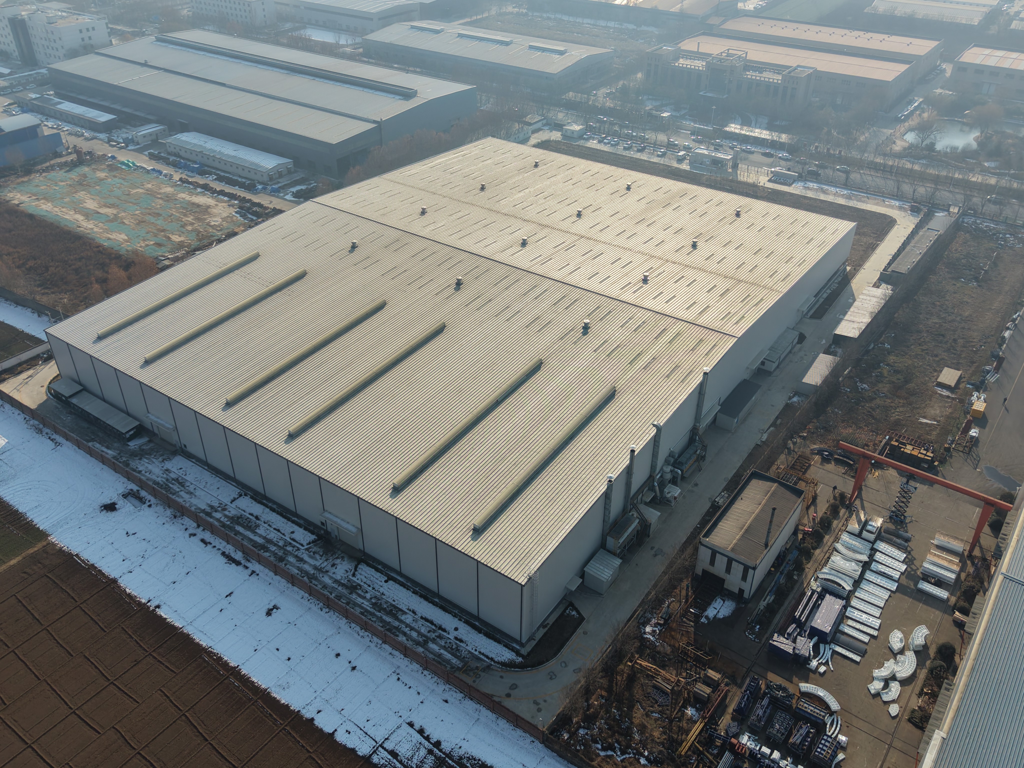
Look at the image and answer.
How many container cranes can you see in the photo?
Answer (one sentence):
The picture shows 1 container crane.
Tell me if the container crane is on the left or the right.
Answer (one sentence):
The container crane is on the right side of the image.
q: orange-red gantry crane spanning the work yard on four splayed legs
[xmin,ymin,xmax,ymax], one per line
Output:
[836,445,1015,556]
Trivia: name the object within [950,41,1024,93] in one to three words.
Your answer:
building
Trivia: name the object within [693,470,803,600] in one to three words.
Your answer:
building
